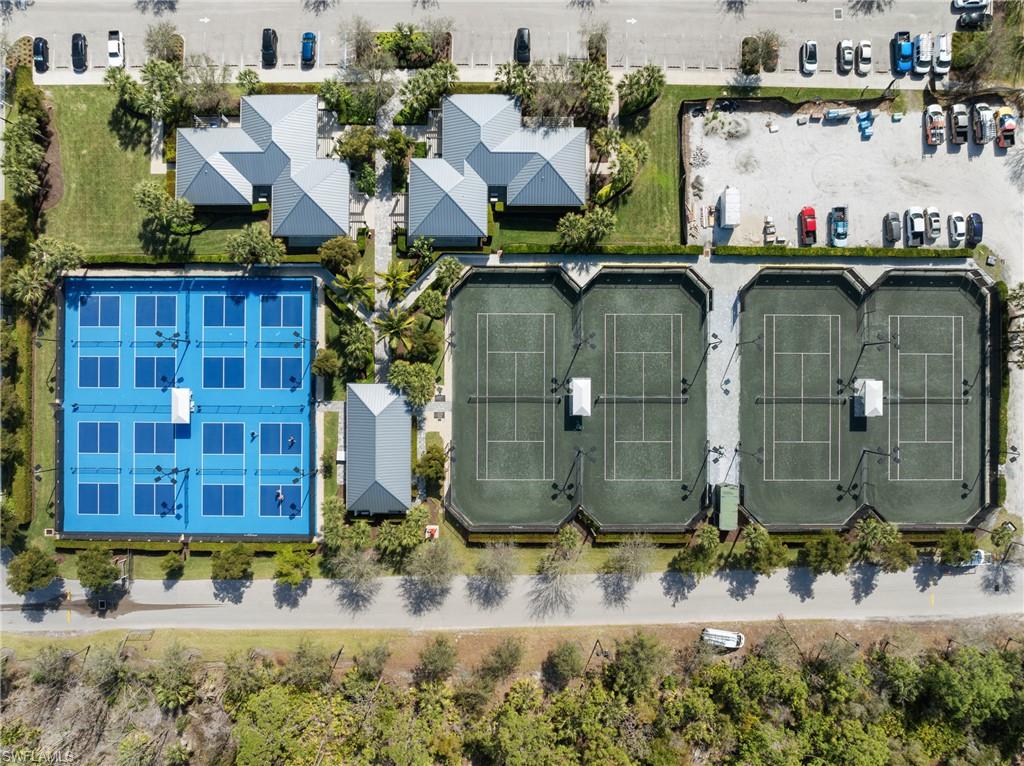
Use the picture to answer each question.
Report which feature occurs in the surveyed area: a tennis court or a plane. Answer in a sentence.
This aerial view contains a tennis court.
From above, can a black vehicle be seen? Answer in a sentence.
Yes, there's a black vehicle down there.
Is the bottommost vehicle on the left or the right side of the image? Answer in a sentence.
It is on the right.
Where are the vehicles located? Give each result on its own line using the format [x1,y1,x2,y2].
[894,31,915,74]
[856,40,874,75]
[953,0,990,13]
[838,39,856,74]
[974,104,998,145]
[964,213,984,246]
[925,105,947,147]
[933,30,955,75]
[882,210,902,245]
[67,34,89,72]
[801,40,819,74]
[923,207,942,240]
[913,30,935,75]
[905,207,926,246]
[950,105,971,146]
[105,28,125,68]
[799,206,818,245]
[947,211,967,244]
[299,32,317,66]
[514,27,532,66]
[957,10,994,30]
[259,27,279,66]
[830,205,850,245]
[701,628,743,650]
[994,107,1016,149]
[31,38,50,73]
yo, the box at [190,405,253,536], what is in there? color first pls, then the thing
blue sports court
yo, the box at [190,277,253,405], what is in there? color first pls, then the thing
blue sports court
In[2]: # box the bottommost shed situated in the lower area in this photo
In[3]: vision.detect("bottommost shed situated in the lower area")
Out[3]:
[715,483,737,530]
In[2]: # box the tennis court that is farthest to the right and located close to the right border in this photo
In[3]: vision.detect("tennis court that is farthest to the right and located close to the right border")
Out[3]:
[866,273,985,523]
